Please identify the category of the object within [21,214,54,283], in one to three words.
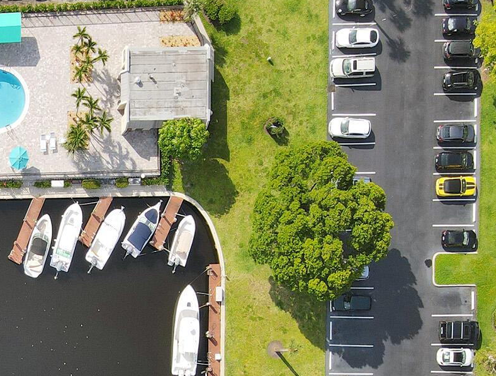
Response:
boat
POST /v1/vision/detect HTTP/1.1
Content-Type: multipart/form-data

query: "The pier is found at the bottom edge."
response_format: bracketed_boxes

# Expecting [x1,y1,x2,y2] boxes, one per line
[208,264,221,376]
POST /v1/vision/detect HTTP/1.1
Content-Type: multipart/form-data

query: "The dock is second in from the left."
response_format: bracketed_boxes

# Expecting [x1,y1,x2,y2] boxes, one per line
[81,196,113,247]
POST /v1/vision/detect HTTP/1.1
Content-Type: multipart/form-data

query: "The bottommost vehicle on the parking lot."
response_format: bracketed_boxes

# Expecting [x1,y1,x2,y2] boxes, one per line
[435,348,474,368]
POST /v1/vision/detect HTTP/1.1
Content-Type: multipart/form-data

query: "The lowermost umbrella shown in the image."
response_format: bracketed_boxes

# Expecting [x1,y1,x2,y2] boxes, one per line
[8,148,28,168]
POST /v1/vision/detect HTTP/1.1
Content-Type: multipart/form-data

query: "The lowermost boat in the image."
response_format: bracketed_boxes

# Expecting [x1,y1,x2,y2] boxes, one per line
[170,285,202,376]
